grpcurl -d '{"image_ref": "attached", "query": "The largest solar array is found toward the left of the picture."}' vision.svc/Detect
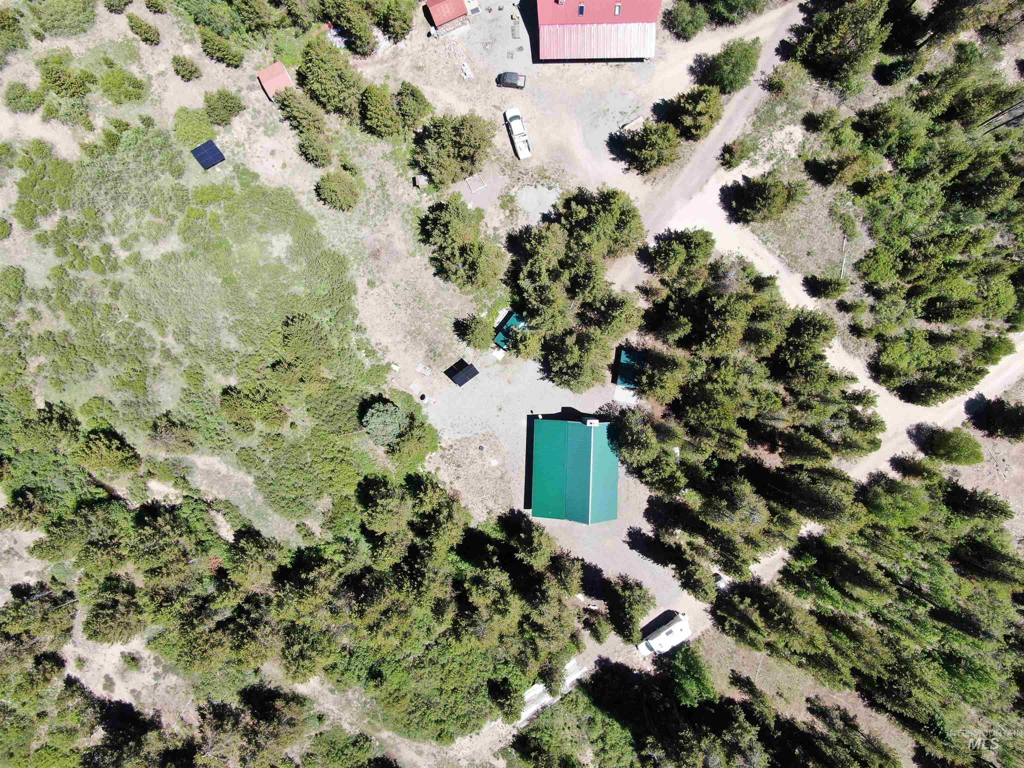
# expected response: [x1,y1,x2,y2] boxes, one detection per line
[191,140,225,170]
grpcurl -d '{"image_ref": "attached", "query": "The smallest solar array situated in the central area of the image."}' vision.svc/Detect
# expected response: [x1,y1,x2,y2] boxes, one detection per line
[452,363,479,387]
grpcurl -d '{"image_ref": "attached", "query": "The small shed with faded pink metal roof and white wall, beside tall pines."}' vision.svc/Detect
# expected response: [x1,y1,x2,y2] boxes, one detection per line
[253,54,298,103]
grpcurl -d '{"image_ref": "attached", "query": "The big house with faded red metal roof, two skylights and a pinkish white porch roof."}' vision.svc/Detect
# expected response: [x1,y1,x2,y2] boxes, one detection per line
[539,0,661,64]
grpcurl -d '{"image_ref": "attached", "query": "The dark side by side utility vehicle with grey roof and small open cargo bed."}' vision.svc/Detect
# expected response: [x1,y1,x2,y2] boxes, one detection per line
[495,72,526,91]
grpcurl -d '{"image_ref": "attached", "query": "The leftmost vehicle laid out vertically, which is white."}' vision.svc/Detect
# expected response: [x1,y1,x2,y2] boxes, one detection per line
[507,108,532,162]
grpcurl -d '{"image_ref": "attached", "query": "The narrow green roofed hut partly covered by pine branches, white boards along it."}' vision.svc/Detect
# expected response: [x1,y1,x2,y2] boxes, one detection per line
[494,314,523,358]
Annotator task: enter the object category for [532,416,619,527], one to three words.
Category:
building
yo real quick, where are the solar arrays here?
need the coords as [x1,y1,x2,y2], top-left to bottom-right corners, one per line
[452,363,479,387]
[191,140,225,170]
